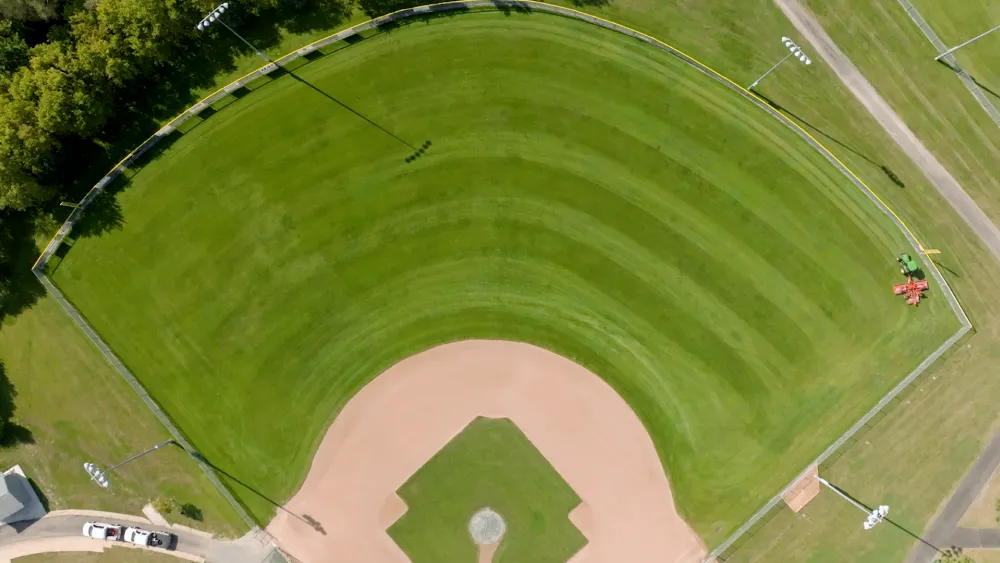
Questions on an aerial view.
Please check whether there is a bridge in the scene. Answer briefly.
No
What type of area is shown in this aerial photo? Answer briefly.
sports ground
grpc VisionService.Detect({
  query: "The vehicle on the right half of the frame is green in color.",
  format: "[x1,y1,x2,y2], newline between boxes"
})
[896,254,918,274]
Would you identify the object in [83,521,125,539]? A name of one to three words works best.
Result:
vehicle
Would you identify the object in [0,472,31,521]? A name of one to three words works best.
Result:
shed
